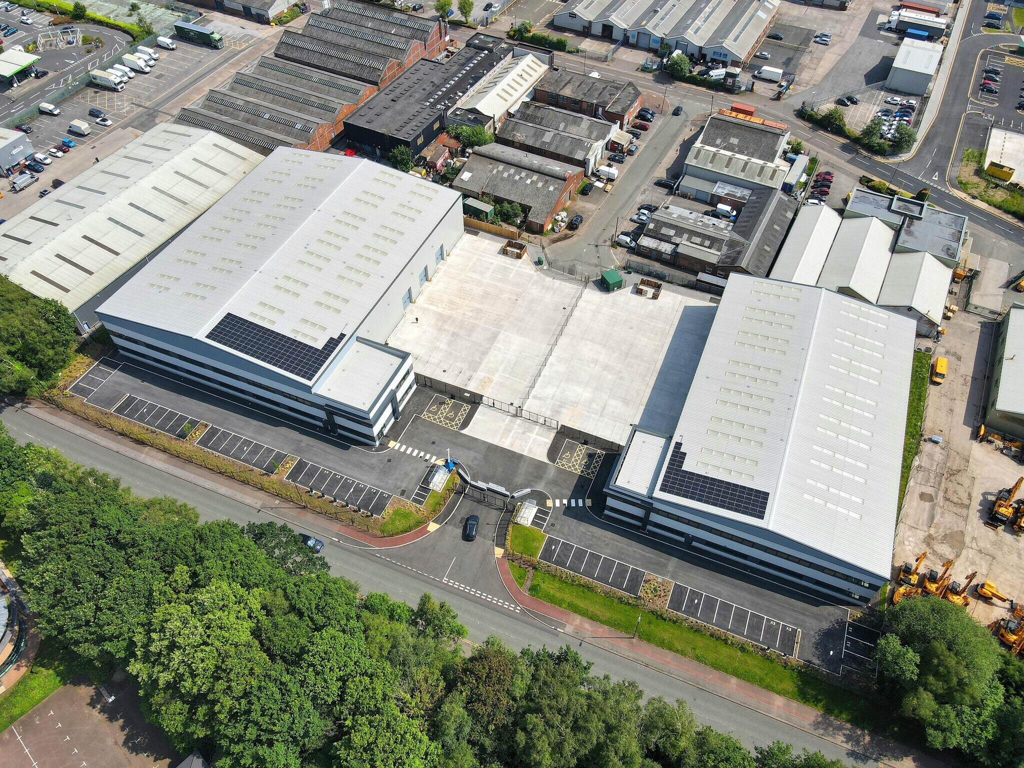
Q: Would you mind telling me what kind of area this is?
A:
industrial area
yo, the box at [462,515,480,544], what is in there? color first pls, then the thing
black car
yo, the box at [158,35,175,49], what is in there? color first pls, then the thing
white vehicle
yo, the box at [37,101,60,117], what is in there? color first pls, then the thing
white vehicle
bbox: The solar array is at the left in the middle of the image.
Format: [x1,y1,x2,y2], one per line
[205,312,345,379]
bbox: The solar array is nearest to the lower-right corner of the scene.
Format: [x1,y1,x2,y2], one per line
[660,441,773,519]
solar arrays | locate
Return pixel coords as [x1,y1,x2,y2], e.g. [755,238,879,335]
[660,441,773,519]
[205,312,345,379]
